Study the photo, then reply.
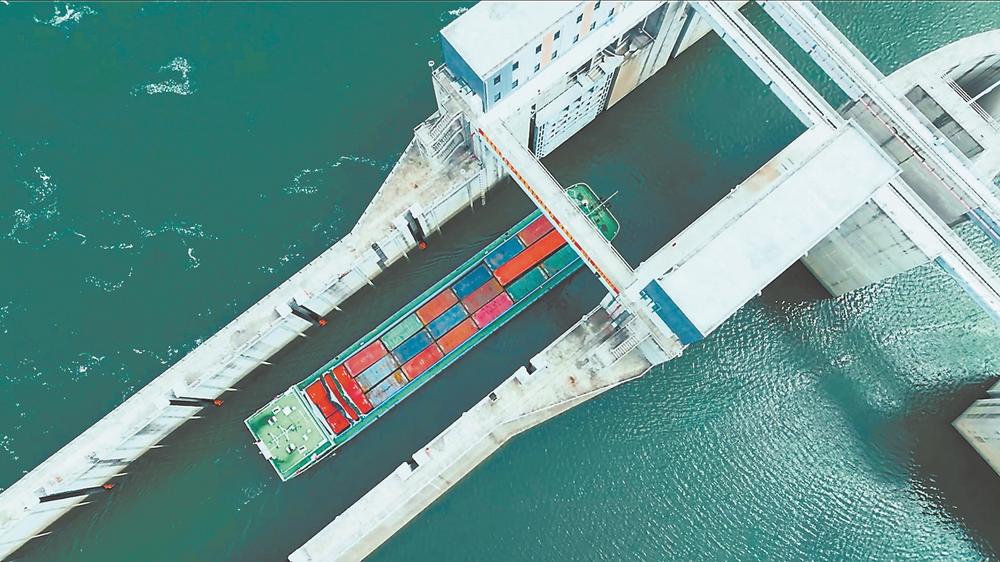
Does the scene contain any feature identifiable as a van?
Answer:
No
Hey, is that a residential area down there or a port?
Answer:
port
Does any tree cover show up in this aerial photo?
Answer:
No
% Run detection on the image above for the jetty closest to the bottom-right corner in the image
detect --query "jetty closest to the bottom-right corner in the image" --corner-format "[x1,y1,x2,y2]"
[951,378,1000,475]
